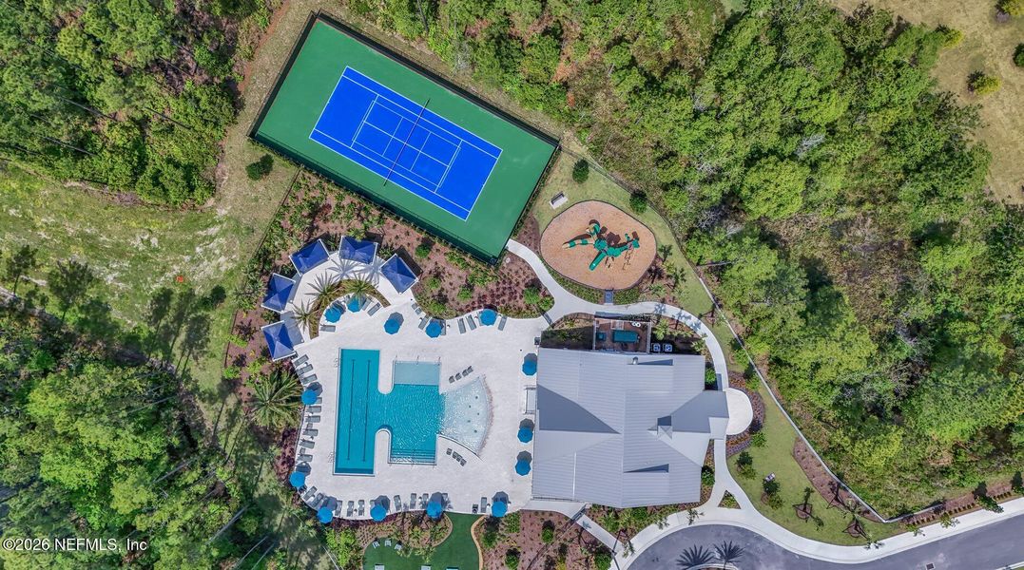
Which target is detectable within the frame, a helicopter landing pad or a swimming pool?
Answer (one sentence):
Of the two, only a swimming pool appears.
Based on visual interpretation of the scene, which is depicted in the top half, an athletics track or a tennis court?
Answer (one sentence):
You can see a tennis court in the top half.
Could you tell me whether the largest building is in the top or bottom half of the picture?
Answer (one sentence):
The bottom half of the photo is where the largest building is.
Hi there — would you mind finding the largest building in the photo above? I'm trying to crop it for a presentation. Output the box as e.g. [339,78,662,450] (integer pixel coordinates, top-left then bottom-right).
[531,348,729,508]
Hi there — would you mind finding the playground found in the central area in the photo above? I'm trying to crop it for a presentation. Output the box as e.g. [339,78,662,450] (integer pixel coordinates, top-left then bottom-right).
[540,199,658,291]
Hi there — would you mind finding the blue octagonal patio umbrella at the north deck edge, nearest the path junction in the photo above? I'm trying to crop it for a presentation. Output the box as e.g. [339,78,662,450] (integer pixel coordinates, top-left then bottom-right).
[480,308,496,324]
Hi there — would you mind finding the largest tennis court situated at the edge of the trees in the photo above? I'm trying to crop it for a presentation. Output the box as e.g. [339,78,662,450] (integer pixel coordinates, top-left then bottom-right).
[253,17,558,262]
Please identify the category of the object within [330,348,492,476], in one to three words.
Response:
swimming pool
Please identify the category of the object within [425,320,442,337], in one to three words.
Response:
umbrella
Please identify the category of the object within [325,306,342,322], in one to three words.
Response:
umbrella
